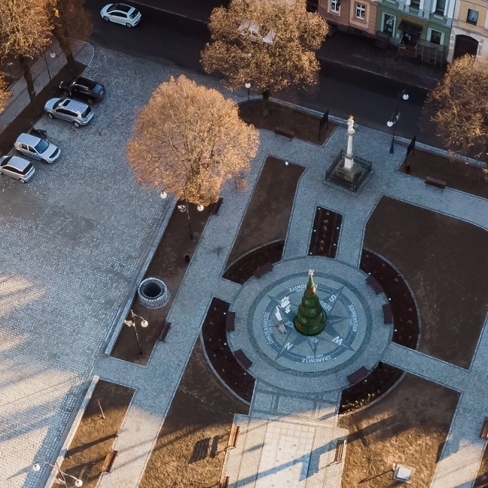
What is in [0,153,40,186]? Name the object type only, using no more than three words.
car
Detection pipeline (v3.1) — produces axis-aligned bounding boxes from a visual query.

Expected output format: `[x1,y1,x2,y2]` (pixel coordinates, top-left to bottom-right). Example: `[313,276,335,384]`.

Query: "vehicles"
[96,1,145,31]
[55,73,111,106]
[0,153,40,186]
[40,95,99,129]
[9,128,62,165]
